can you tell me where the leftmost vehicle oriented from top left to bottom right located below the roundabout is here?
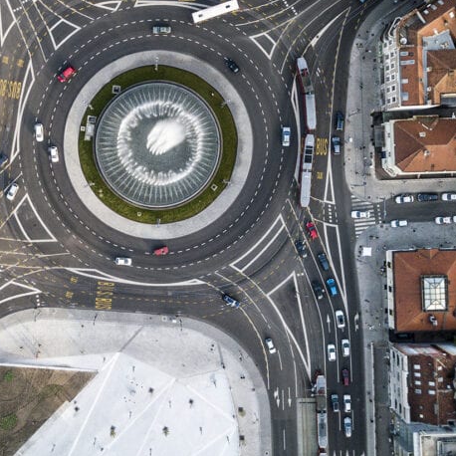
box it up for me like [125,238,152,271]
[221,293,239,307]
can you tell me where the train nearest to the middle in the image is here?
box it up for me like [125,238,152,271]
[298,134,314,207]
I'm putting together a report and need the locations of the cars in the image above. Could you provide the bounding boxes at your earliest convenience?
[35,124,44,140]
[56,65,75,81]
[327,343,337,361]
[343,394,351,413]
[153,245,169,256]
[153,25,170,33]
[336,310,345,328]
[434,216,453,224]
[395,195,413,204]
[332,137,341,154]
[419,193,437,203]
[221,293,239,307]
[50,145,58,162]
[344,419,352,435]
[7,183,20,200]
[334,111,344,130]
[342,338,350,356]
[326,279,337,296]
[265,337,275,354]
[442,193,456,202]
[352,211,371,218]
[318,251,329,271]
[391,219,407,227]
[313,281,324,300]
[341,367,350,385]
[223,57,240,75]
[281,127,289,145]
[114,257,133,266]
[305,221,318,239]
[295,239,309,258]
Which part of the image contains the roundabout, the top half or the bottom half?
top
